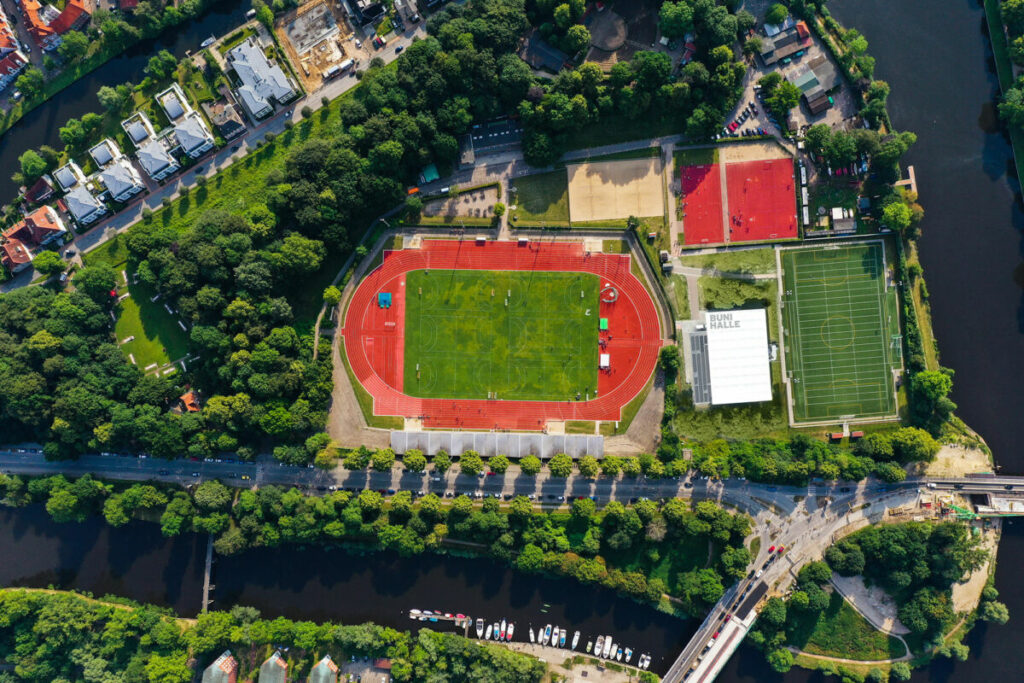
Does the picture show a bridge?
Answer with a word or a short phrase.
Yes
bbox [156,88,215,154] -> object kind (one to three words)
house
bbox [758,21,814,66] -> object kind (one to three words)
building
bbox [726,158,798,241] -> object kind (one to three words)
sports court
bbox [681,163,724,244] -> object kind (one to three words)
sports court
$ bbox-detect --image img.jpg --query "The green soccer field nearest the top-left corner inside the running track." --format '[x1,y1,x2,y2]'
[404,269,601,400]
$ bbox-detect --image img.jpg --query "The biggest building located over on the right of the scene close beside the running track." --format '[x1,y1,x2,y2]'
[703,309,772,404]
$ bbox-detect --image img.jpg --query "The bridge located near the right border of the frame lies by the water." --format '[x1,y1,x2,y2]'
[926,478,1024,523]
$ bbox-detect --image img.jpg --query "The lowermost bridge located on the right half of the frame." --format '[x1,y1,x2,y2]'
[662,557,768,683]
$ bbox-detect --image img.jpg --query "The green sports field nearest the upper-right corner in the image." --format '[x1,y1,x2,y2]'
[776,239,901,427]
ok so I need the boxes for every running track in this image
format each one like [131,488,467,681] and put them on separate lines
[339,235,664,434]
